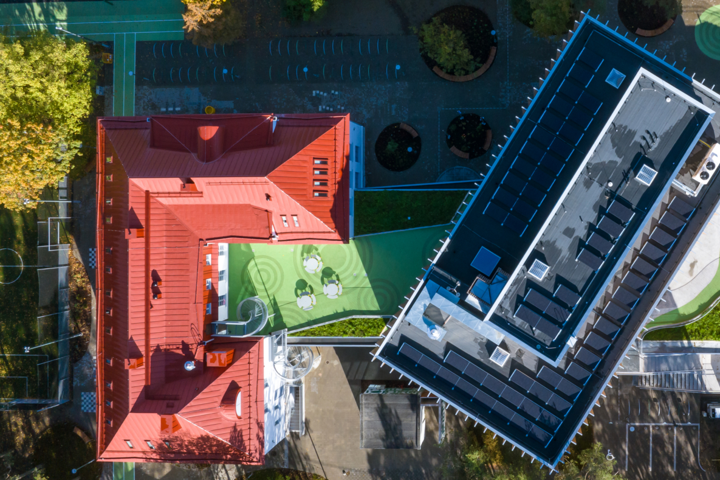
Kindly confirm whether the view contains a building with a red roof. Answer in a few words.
Yes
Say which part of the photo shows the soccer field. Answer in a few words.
left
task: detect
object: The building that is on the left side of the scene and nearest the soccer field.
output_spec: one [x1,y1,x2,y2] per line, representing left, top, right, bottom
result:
[96,115,365,463]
